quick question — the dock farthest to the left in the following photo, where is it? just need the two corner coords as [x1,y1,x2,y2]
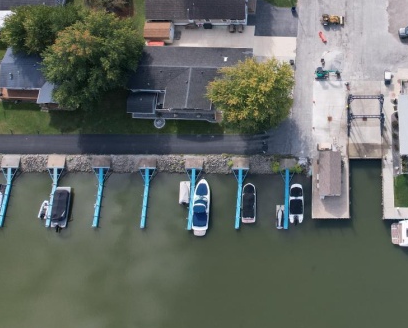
[0,156,22,227]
